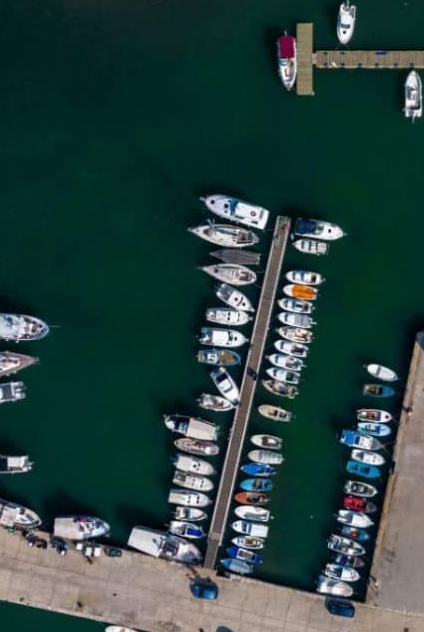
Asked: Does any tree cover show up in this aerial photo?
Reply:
No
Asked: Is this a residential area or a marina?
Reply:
marina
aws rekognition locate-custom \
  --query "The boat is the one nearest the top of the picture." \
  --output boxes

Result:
[338,0,357,44]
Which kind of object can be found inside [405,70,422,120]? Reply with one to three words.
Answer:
boat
